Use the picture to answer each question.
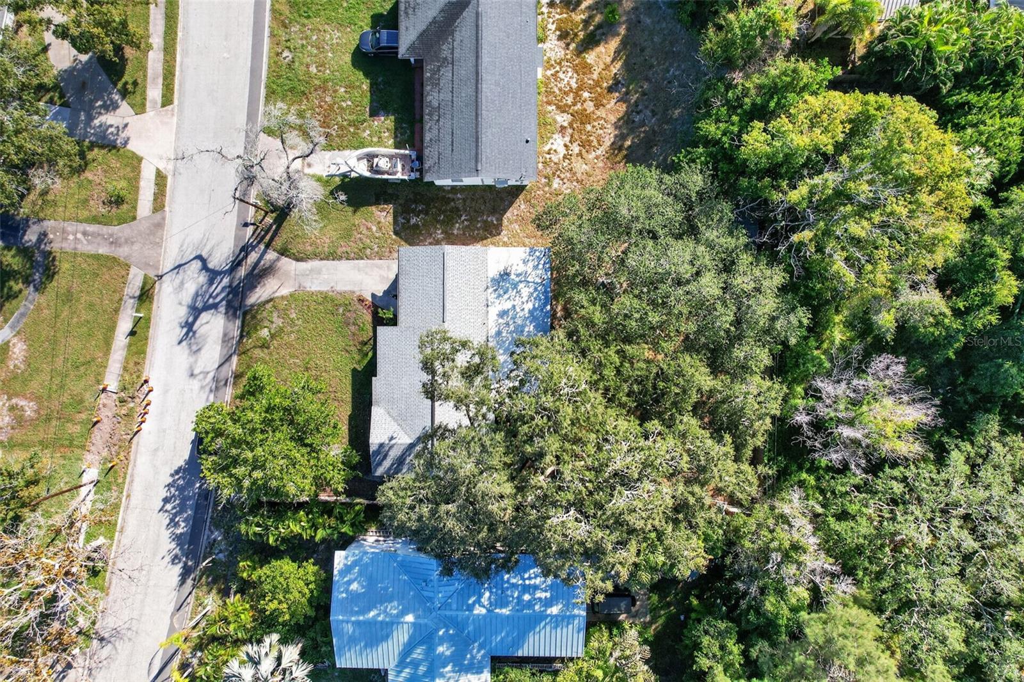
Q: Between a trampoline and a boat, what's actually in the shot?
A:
boat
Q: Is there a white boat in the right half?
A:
No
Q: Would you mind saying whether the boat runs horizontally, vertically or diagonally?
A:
horizontally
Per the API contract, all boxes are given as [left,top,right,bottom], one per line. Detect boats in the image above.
[341,148,419,179]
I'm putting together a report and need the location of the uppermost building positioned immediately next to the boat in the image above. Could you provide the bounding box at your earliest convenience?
[398,0,537,185]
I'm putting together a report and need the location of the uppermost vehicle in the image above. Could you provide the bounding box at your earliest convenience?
[361,29,398,62]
